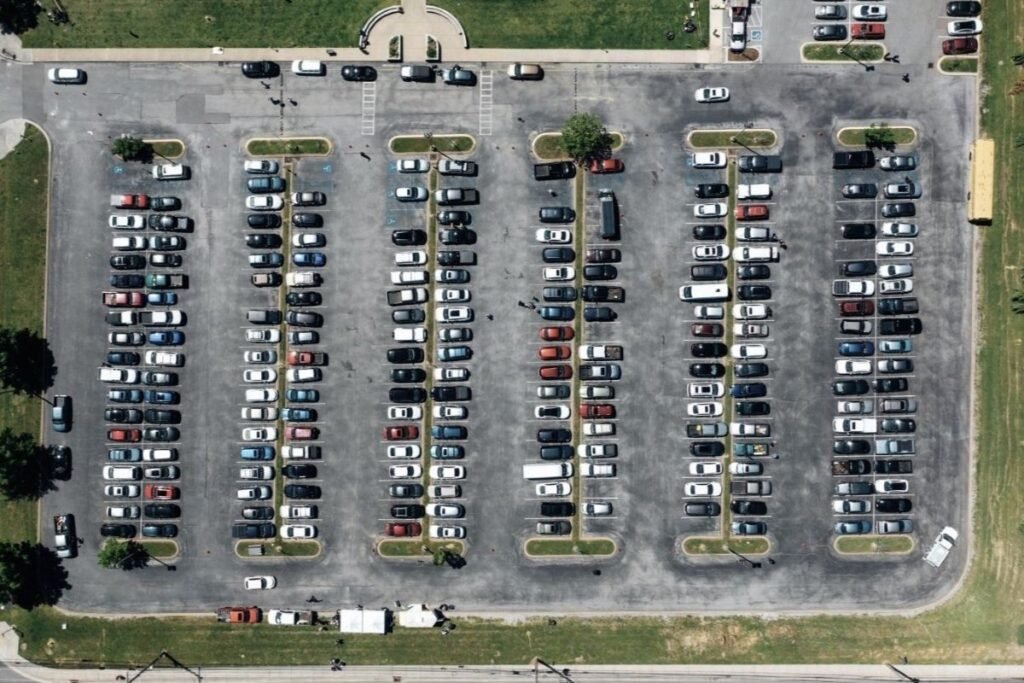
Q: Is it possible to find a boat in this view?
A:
No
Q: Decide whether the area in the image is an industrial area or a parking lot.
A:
parking lot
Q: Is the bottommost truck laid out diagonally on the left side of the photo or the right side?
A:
right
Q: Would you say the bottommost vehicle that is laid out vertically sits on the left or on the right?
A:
left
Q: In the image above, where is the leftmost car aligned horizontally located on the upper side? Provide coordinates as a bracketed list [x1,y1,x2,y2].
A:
[47,67,84,84]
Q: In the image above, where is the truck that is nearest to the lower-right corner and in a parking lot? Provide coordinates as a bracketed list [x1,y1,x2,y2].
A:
[924,525,958,567]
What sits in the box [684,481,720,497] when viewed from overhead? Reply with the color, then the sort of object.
white car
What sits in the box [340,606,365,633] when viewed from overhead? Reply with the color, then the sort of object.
white tent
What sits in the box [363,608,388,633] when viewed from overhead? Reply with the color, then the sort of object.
white tent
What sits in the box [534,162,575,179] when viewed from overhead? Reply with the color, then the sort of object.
black vehicle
